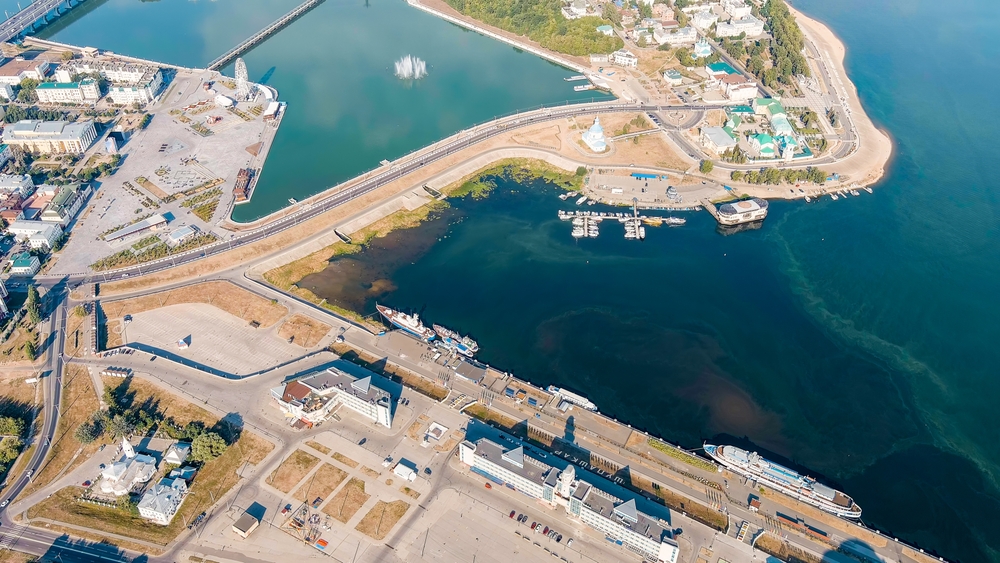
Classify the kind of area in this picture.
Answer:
port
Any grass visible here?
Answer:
Yes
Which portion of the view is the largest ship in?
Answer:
bottom right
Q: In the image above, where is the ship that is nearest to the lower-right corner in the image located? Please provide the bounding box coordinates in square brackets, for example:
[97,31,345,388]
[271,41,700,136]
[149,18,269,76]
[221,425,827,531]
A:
[706,438,863,517]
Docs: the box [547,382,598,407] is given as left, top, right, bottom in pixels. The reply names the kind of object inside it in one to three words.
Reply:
boat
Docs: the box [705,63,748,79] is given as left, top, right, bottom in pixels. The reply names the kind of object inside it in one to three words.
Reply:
house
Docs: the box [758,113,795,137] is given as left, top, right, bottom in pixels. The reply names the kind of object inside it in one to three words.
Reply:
building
